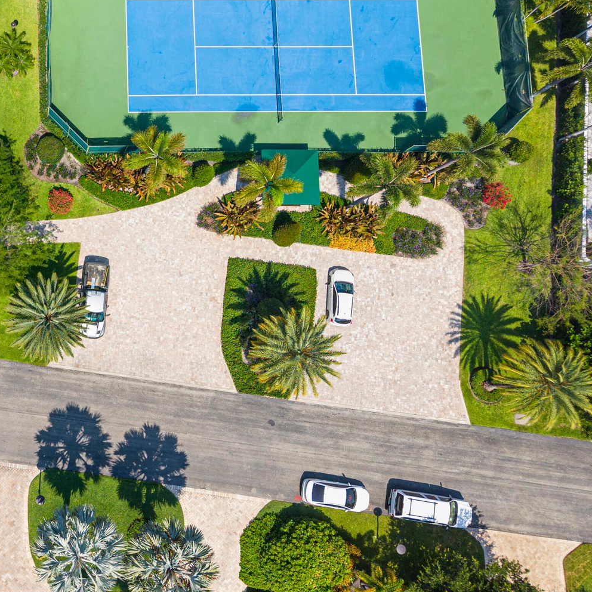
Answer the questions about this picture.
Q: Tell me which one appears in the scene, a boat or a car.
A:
car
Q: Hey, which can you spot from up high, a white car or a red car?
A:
white car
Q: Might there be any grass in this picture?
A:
Yes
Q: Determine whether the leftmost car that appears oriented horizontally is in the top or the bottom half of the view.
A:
bottom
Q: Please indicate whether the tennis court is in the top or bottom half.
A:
top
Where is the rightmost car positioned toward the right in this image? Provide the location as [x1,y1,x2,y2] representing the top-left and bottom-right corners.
[389,489,469,527]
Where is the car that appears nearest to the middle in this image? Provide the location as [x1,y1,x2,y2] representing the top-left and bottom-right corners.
[326,267,357,326]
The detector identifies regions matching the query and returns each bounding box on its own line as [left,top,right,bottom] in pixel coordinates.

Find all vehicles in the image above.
[301,479,367,514]
[389,489,469,527]
[79,259,109,337]
[326,267,357,326]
